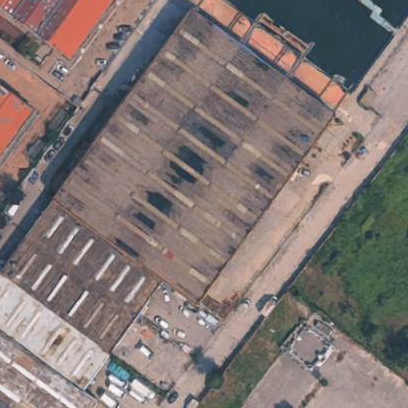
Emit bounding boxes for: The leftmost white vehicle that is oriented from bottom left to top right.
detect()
[9,203,22,220]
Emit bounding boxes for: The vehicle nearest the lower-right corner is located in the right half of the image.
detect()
[260,294,278,315]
